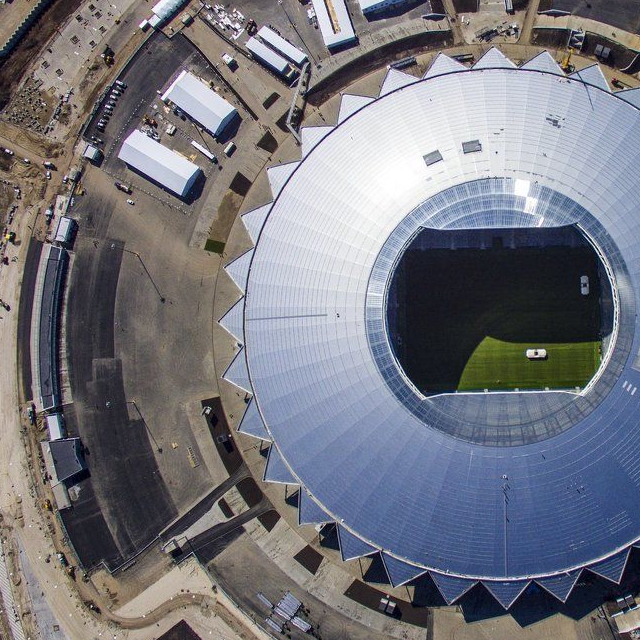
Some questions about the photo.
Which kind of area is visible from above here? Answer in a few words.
sports ground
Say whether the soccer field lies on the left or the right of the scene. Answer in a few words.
right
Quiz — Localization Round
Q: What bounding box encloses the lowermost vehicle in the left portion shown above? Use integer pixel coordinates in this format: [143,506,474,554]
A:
[82,603,99,617]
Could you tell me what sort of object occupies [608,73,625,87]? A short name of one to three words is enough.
vehicle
